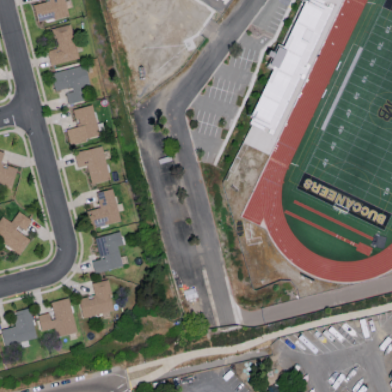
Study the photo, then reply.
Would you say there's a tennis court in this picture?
No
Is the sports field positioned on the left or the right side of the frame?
right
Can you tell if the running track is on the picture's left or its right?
right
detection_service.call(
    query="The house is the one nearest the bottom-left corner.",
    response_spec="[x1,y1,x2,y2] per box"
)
[0,308,36,348]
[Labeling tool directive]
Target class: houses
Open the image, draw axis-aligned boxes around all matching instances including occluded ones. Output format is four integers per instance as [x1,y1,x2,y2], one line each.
[48,24,82,65]
[54,64,90,104]
[92,234,128,272]
[66,104,104,144]
[87,189,124,229]
[80,279,115,319]
[74,147,112,186]
[0,308,36,348]
[0,211,32,254]
[0,150,18,188]
[34,0,70,22]
[37,298,77,340]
